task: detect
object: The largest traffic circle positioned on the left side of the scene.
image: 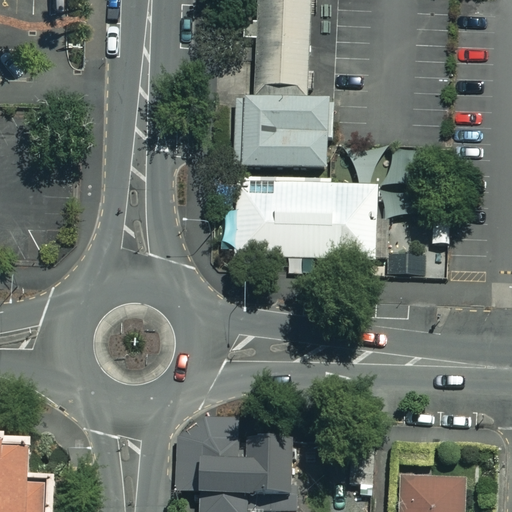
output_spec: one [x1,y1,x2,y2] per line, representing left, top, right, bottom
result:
[92,302,176,386]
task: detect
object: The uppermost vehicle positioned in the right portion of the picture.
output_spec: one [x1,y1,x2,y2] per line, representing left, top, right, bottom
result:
[458,16,488,30]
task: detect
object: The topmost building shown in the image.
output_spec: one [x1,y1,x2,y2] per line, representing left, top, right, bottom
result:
[244,0,310,96]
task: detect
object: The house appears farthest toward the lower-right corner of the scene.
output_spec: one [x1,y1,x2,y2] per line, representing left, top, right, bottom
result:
[398,474,467,512]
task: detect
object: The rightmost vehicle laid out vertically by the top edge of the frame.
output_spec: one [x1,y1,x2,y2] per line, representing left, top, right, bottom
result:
[181,18,194,44]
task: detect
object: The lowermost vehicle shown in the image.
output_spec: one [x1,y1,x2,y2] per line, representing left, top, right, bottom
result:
[333,484,346,511]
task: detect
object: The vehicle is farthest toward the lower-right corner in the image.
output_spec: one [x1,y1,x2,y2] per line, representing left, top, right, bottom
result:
[442,416,472,430]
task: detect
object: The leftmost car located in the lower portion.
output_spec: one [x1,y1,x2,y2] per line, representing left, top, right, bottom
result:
[174,353,189,382]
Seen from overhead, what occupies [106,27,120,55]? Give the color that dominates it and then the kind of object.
white vehicle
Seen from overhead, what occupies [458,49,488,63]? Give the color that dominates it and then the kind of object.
red car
